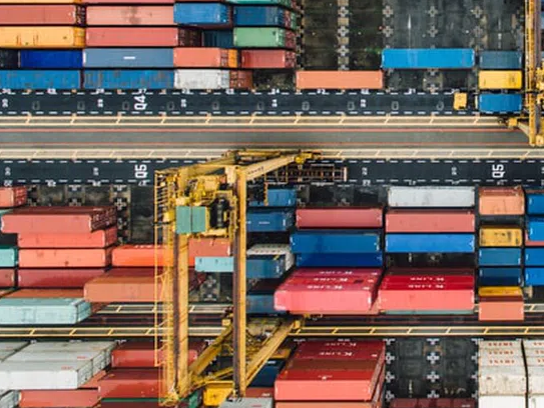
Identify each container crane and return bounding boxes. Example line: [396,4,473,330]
[155,152,328,401]
[500,0,544,147]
